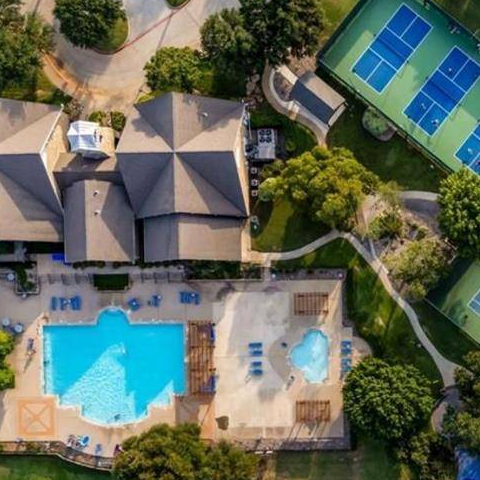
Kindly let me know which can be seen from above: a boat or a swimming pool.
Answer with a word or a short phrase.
swimming pool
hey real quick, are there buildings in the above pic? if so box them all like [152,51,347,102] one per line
[292,72,348,128]
[0,92,252,263]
